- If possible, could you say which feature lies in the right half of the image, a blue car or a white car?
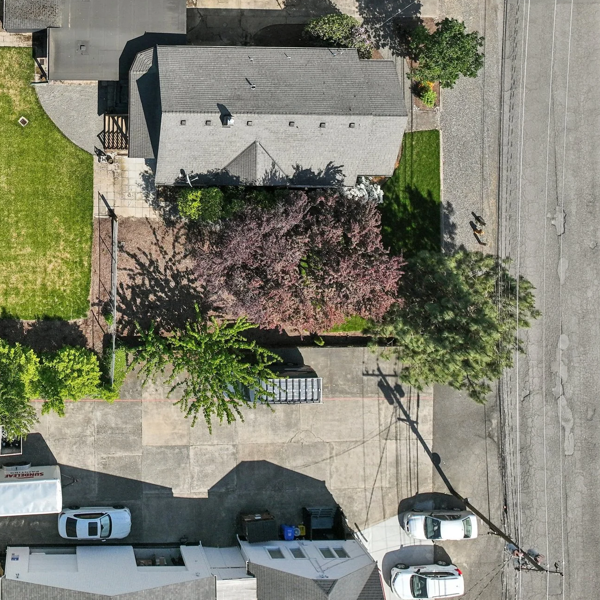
white car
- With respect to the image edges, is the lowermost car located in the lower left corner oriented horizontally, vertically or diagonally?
horizontally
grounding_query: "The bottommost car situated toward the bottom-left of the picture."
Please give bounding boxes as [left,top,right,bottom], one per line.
[60,506,130,542]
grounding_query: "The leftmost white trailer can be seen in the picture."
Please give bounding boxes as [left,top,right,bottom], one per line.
[0,463,78,515]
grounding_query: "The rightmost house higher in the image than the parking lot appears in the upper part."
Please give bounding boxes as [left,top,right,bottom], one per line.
[127,44,408,190]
